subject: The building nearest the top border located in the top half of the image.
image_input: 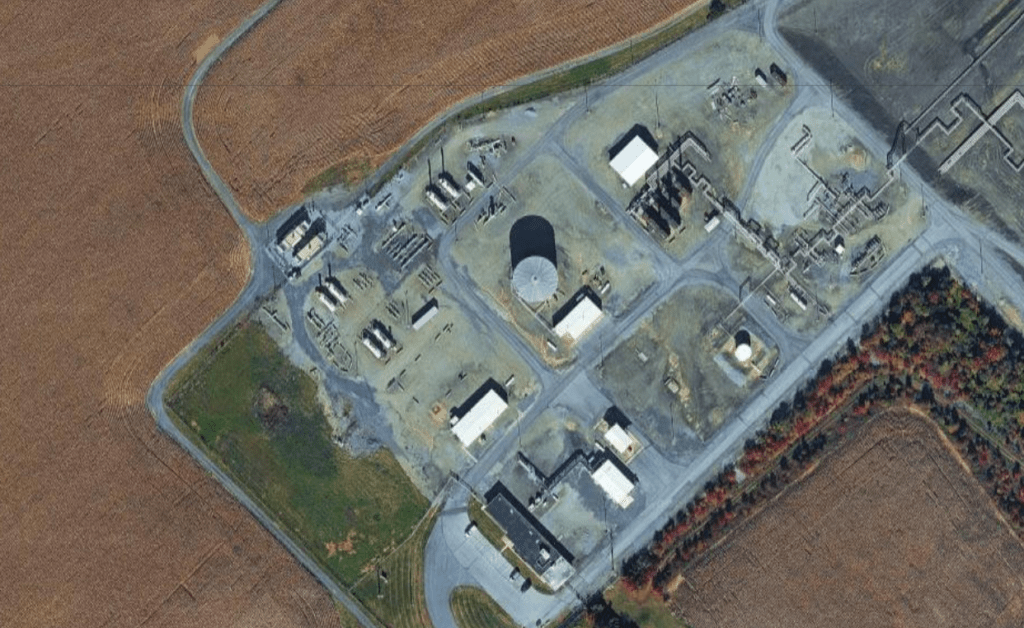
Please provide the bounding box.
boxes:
[609,135,659,185]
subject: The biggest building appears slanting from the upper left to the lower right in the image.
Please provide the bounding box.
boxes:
[485,494,576,592]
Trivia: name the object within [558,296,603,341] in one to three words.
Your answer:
building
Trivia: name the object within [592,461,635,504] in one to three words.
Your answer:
building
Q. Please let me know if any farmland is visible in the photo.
Yes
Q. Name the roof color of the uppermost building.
white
